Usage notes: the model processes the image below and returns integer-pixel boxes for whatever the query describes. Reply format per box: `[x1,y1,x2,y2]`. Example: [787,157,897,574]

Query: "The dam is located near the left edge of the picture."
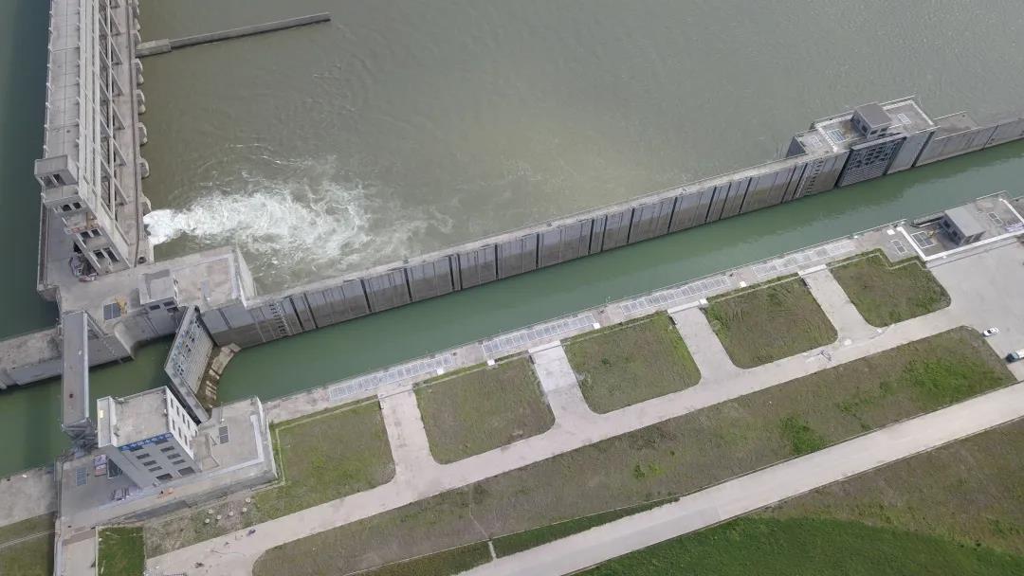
[35,0,166,294]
